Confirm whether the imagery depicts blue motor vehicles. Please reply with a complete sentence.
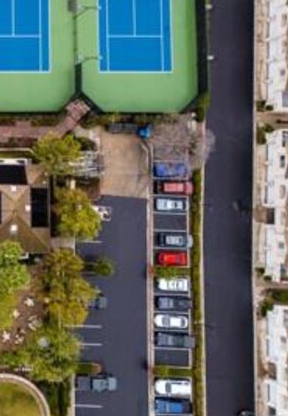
Yes, looking at the shot, I can spot a blue motor vehicle.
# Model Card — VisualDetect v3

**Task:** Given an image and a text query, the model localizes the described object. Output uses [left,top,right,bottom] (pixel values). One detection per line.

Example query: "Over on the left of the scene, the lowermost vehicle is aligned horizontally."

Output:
[78,376,117,394]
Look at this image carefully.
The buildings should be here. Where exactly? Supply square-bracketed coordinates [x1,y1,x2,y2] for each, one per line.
[260,312,288,416]
[260,129,288,279]
[0,164,51,255]
[260,0,288,107]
